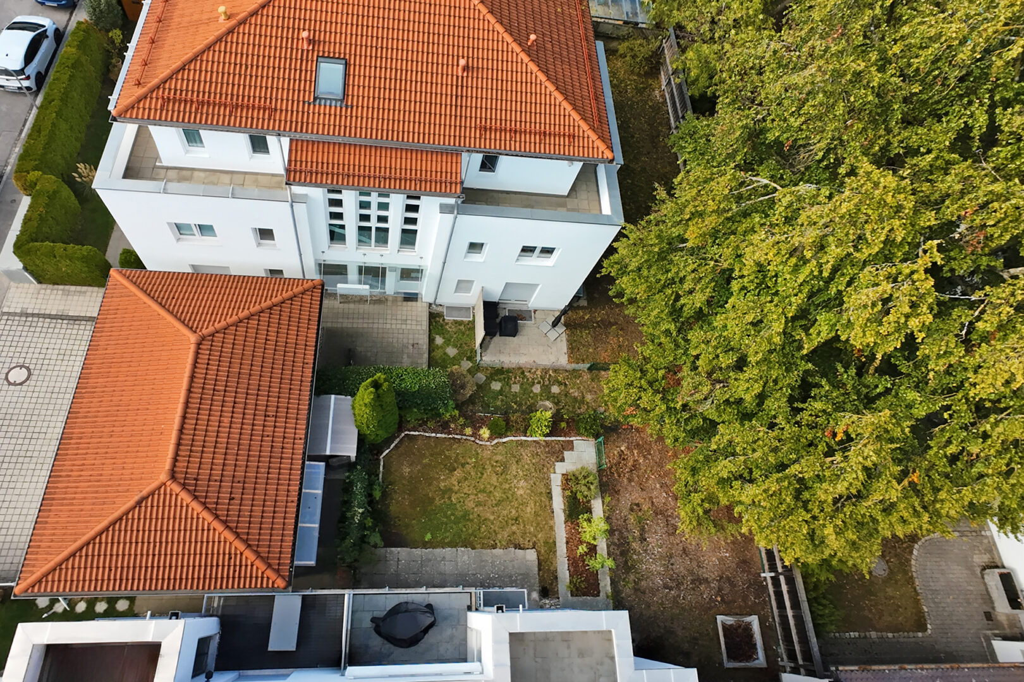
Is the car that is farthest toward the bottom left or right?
left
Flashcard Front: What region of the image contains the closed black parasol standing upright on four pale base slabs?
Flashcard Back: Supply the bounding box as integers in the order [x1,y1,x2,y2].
[538,301,571,342]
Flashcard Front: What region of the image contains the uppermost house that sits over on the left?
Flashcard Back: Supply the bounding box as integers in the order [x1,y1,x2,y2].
[95,0,622,313]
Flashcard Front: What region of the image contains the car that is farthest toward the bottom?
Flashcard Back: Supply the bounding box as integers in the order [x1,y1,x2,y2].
[0,8,63,96]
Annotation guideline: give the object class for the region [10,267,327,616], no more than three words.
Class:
building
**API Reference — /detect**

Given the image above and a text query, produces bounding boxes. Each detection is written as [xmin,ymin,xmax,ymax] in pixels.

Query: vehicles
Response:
[30,0,84,9]
[0,8,63,96]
